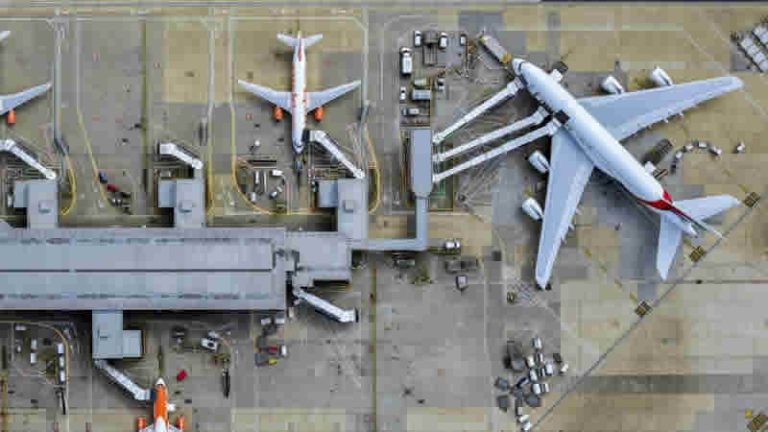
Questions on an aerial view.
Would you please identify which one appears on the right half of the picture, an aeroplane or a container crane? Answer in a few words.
aeroplane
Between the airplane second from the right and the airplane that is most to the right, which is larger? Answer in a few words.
the airplane that is most to the right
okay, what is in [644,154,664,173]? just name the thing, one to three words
vehicle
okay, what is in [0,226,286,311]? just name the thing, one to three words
building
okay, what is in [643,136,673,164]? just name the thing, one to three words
work vehicle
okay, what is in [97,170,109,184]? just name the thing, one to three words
vehicle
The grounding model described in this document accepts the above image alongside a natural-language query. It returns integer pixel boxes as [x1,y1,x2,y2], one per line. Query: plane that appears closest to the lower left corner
[137,377,187,432]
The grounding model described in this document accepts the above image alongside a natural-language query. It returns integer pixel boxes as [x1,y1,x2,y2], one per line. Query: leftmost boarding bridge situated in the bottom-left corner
[93,359,157,402]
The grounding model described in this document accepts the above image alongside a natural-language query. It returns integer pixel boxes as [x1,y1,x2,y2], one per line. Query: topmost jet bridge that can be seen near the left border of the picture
[0,137,58,179]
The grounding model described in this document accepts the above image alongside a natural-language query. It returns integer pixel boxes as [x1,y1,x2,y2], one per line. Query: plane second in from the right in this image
[236,30,362,154]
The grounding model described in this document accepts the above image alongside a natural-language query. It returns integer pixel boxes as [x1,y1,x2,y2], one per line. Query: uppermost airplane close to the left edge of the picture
[0,77,53,125]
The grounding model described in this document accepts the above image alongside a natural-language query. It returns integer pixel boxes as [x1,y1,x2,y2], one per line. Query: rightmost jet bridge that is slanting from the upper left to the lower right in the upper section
[304,127,365,178]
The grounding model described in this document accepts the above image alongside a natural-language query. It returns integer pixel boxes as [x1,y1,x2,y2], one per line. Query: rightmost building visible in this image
[405,125,434,198]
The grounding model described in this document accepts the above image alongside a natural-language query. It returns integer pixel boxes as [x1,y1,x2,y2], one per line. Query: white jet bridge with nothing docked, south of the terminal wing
[290,282,356,320]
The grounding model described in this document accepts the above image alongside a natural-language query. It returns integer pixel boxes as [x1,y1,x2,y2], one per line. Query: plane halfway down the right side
[511,62,745,297]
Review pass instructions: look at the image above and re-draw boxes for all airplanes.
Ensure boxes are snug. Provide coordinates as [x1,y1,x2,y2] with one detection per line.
[0,77,53,125]
[137,377,187,432]
[511,62,745,297]
[236,30,362,154]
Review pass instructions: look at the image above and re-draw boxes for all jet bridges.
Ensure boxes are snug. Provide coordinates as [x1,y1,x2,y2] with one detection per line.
[0,137,58,179]
[434,111,567,184]
[157,142,206,178]
[290,282,356,320]
[434,77,524,145]
[304,127,365,178]
[434,107,549,164]
[93,359,157,402]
